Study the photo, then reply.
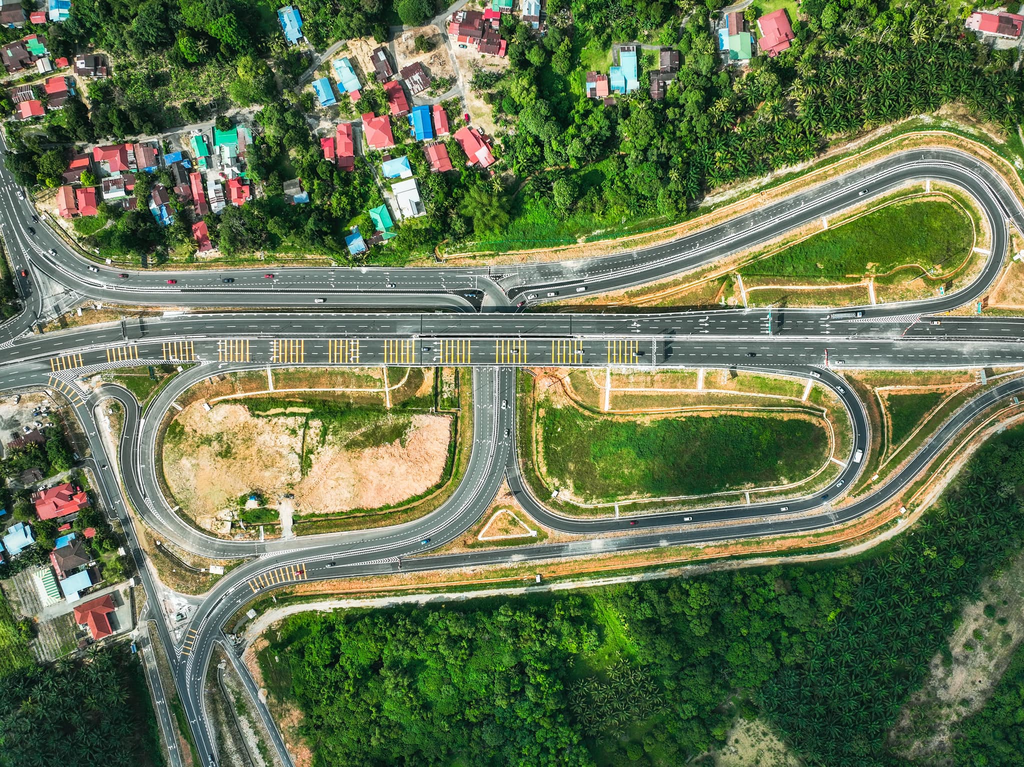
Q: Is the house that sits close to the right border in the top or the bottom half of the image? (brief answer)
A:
top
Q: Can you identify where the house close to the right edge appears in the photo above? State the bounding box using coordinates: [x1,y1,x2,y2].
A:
[964,9,1024,37]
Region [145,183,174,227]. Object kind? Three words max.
house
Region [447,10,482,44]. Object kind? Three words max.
house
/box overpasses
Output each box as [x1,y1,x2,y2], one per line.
[420,313,573,367]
